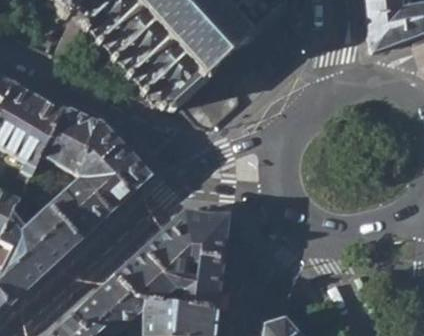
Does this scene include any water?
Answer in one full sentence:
No, the scene doesn't show any water.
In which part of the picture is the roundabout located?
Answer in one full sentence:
The roundabout appears toward the right of the photo.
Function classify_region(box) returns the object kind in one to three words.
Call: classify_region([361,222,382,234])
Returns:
vehicle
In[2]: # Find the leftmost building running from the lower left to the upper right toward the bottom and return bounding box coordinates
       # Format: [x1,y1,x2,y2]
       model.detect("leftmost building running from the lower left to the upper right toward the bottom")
[0,177,94,290]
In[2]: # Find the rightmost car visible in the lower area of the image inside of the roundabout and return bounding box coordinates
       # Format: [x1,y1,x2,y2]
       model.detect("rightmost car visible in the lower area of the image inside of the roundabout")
[394,206,416,220]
